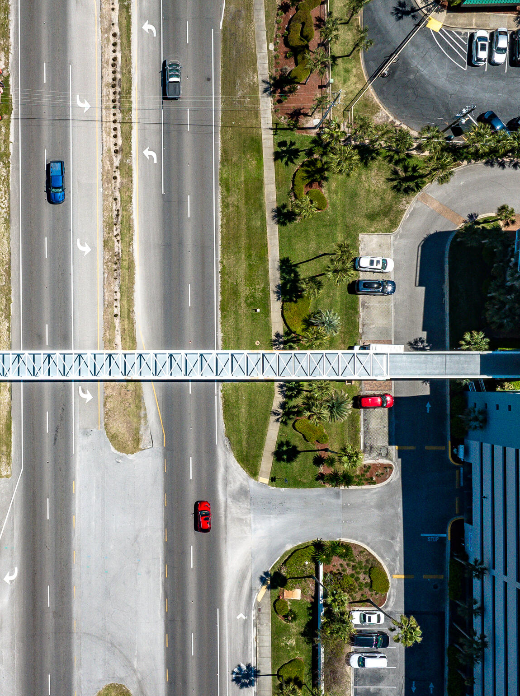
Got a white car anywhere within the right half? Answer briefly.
Yes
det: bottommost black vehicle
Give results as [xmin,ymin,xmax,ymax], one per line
[352,631,389,650]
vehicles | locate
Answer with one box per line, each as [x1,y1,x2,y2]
[194,500,212,532]
[357,278,395,296]
[512,29,520,67]
[358,393,393,410]
[478,109,510,138]
[490,28,510,66]
[510,113,520,129]
[355,255,393,274]
[349,609,384,627]
[166,60,183,101]
[352,631,389,650]
[47,160,66,204]
[469,30,490,66]
[350,341,405,351]
[351,651,388,671]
